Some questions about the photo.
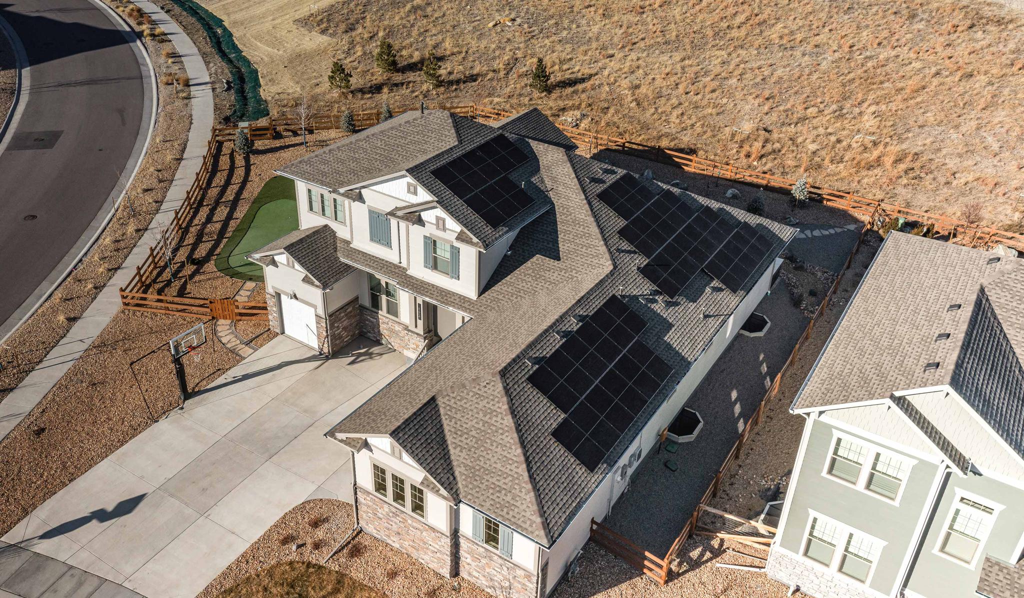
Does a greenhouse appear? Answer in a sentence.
No, there's no greenhouse here.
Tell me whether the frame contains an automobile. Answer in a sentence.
No, I find no automobile anywhere in the image.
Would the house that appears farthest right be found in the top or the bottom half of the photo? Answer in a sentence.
It is in the bottom half that the house that appears farthest right appears.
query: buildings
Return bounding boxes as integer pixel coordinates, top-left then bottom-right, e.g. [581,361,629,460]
[243,94,799,598]
[700,230,1024,598]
